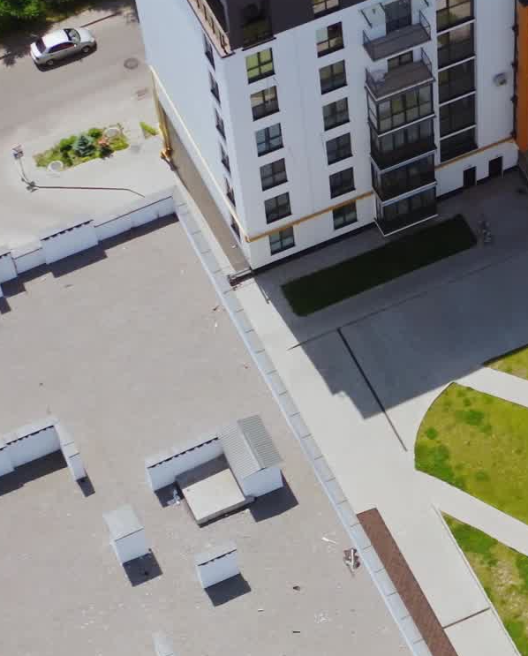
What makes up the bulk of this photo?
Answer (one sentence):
Most of the picture is covered by buildings.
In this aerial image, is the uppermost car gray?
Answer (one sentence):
Yes, the uppermost car appears gray.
